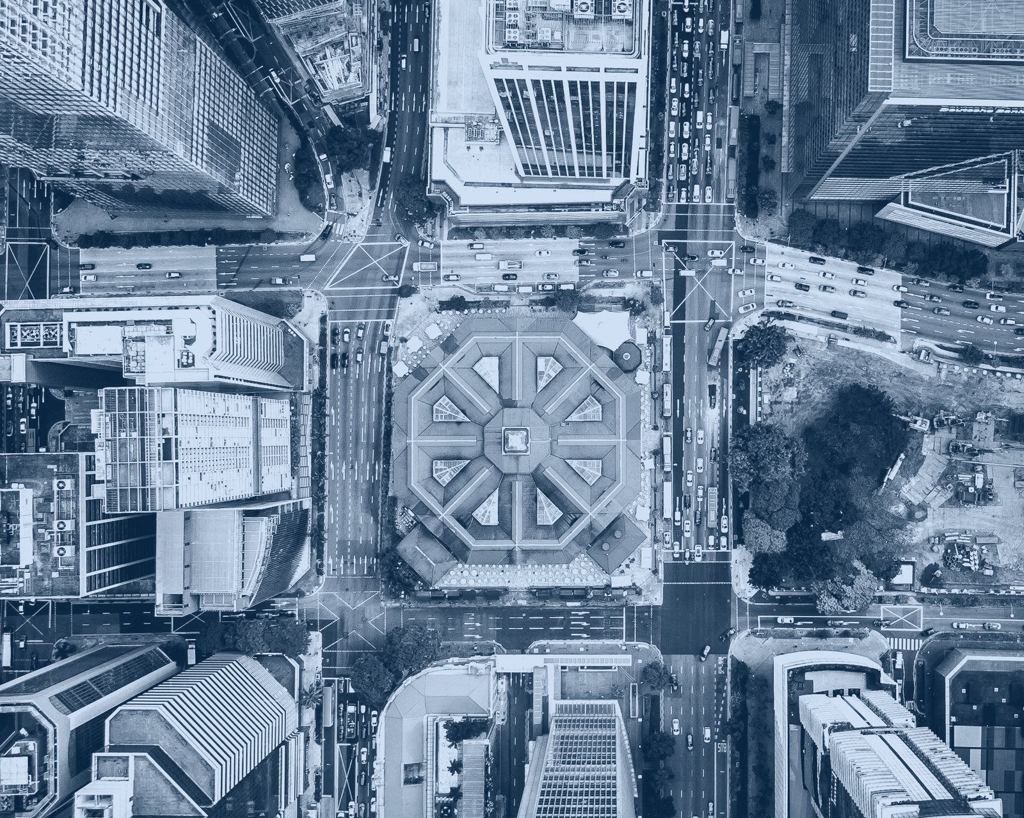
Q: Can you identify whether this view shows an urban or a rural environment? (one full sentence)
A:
The land in this view is best described as urban.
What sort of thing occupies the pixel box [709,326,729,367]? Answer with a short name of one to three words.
bus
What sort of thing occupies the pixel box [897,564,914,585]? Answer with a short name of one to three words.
shed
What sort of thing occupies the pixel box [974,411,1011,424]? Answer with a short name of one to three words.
vehicle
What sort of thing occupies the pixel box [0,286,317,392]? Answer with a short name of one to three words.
building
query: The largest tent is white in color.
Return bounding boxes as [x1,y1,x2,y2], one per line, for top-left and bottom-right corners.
[573,310,635,351]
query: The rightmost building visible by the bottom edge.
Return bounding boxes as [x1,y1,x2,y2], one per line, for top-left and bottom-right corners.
[925,643,1024,818]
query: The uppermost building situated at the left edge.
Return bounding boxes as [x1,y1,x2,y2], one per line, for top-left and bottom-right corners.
[0,0,279,217]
